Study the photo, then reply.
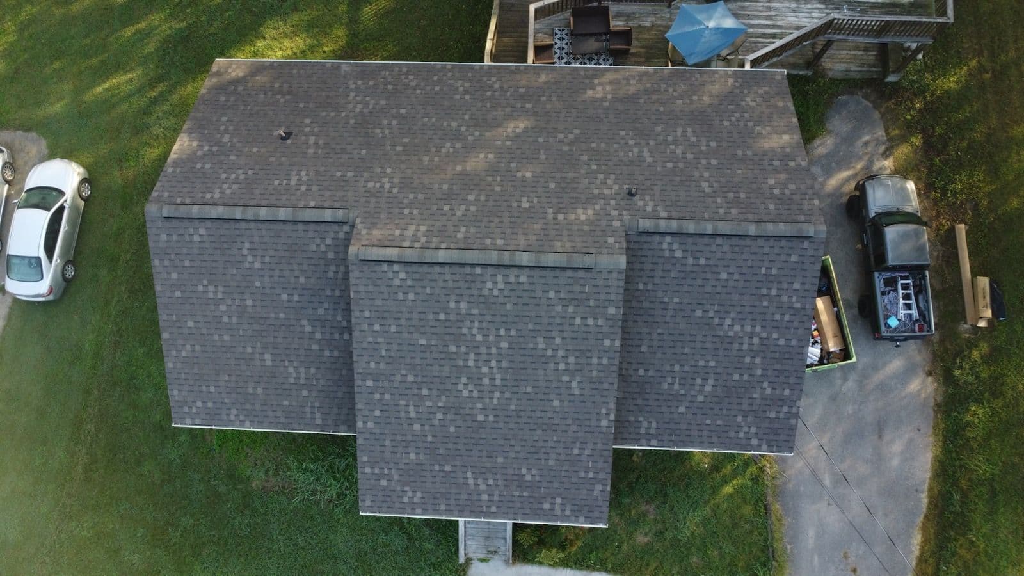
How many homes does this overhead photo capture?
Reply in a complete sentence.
The count comes to 1 home.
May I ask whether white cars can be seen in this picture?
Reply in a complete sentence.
Yes, looking at the shot, I can spot a white car.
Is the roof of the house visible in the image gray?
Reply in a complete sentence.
Yes, gray is the color of the roof of the house.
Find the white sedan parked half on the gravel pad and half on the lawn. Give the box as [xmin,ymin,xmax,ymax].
[3,161,96,306]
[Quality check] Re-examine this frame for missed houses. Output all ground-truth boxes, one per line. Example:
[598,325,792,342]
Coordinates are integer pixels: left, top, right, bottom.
[146,55,825,532]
